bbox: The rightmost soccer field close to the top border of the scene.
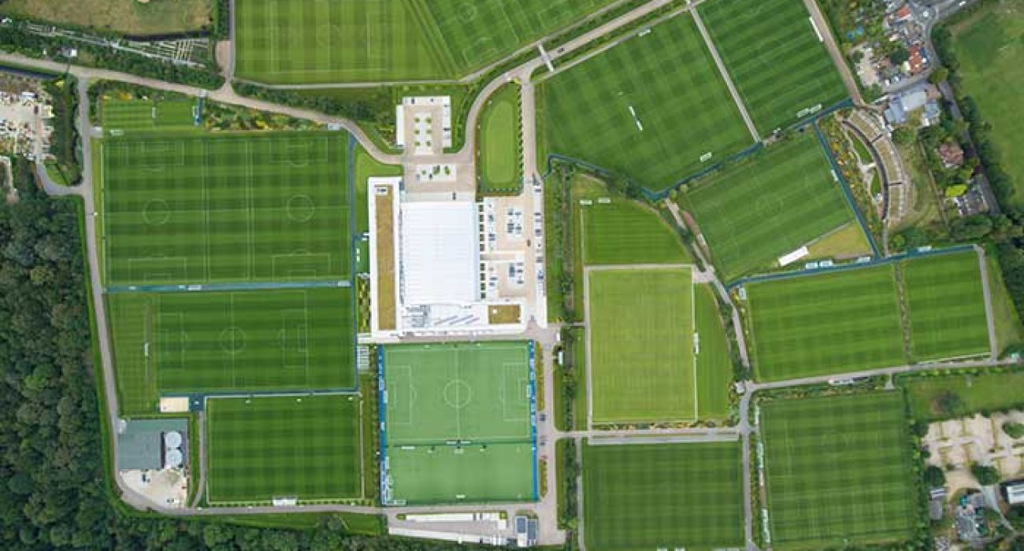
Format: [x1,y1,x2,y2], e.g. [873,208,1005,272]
[694,0,849,136]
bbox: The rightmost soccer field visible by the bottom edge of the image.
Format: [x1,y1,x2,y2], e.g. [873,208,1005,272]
[760,392,916,543]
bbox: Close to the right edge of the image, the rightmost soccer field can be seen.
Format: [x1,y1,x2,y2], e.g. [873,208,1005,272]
[903,250,992,363]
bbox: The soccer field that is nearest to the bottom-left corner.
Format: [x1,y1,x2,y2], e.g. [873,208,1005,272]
[110,292,160,415]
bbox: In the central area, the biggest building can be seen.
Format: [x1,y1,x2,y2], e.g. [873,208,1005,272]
[358,176,544,343]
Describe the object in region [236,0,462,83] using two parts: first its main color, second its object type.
green soccer field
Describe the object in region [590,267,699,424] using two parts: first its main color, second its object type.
green soccer field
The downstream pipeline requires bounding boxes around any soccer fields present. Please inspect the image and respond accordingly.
[228,131,350,283]
[236,0,462,83]
[429,0,618,78]
[110,292,160,415]
[590,267,699,424]
[696,285,729,420]
[903,250,992,363]
[384,342,532,444]
[584,442,745,551]
[542,13,757,190]
[680,130,855,281]
[581,199,689,264]
[104,132,228,285]
[206,394,361,504]
[158,286,354,392]
[746,264,907,380]
[386,443,535,504]
[760,392,916,543]
[694,0,849,136]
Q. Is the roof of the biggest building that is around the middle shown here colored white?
Yes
